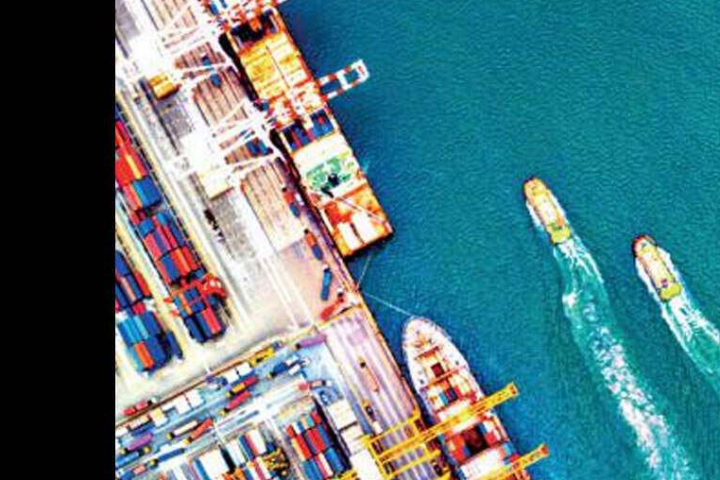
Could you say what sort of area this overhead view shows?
port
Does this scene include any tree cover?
No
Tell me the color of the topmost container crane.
white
